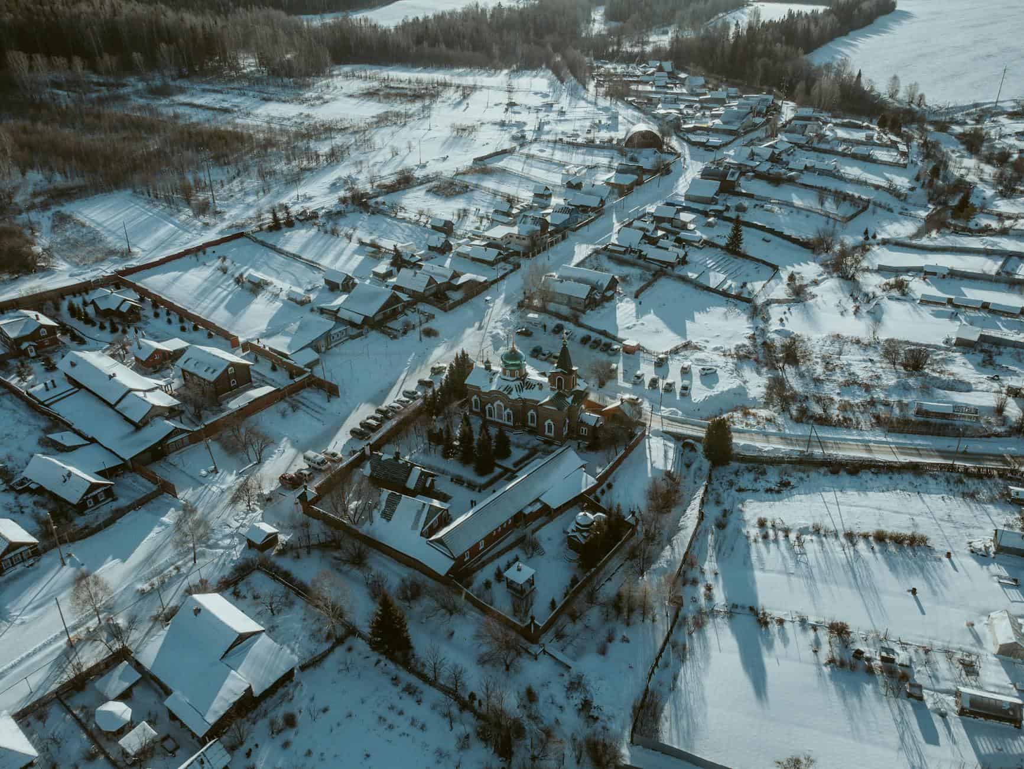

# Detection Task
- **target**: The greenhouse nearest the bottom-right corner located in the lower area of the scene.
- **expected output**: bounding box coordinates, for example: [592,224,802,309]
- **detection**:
[950,681,1024,737]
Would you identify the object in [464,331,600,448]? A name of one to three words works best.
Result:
building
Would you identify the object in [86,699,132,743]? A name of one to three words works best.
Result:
gazebo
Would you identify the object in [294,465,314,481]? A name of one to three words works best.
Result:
car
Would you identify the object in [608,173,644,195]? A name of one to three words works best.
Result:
house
